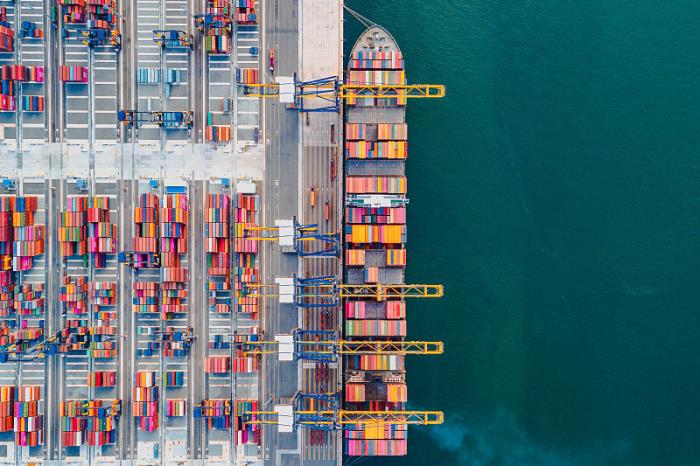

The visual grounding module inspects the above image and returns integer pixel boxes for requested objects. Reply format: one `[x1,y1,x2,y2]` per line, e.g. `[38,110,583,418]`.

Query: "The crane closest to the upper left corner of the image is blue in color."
[77,27,123,50]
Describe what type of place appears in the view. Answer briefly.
port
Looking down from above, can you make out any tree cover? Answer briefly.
No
